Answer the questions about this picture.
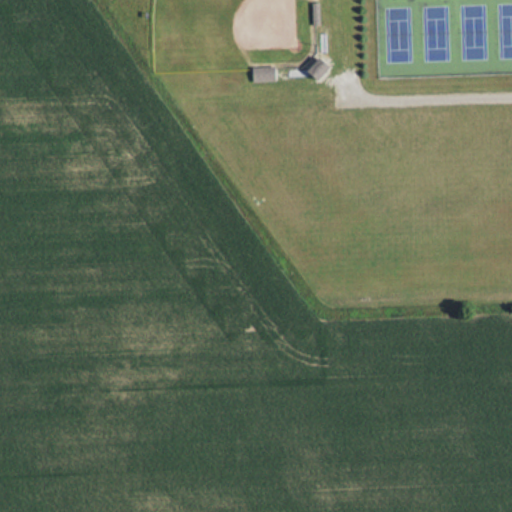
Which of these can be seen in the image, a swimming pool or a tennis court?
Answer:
tennis court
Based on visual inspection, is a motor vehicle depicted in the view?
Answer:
No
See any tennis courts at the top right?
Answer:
Yes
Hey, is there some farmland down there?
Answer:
Yes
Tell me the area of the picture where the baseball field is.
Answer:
top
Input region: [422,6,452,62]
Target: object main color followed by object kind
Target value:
blue tennis court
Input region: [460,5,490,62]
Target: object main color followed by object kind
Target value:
blue tennis court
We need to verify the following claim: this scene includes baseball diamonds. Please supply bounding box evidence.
[154,0,319,72]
